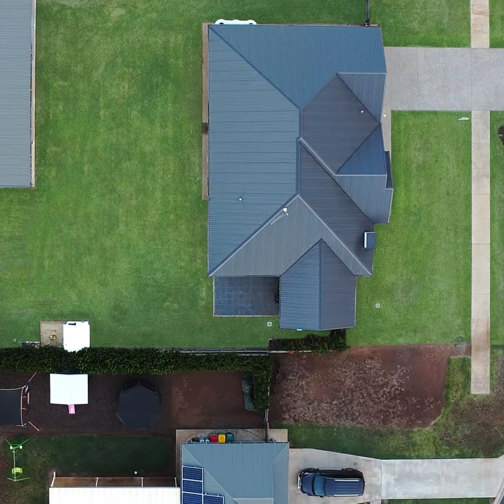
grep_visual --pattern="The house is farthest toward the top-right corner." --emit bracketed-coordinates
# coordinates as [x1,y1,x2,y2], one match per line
[207,24,394,331]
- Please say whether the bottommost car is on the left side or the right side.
right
